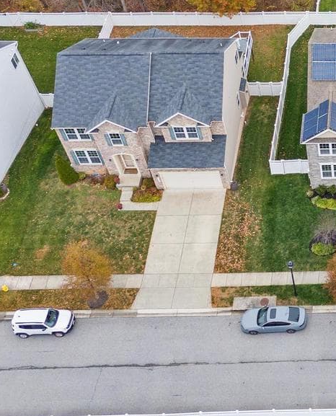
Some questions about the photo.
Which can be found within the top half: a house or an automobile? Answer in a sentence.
Visible within the top half is a house.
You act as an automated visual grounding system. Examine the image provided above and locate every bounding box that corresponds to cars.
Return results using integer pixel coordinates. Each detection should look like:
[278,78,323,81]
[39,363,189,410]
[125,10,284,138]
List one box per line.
[9,307,72,338]
[241,305,307,336]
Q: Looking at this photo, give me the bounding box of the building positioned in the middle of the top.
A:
[51,21,256,194]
